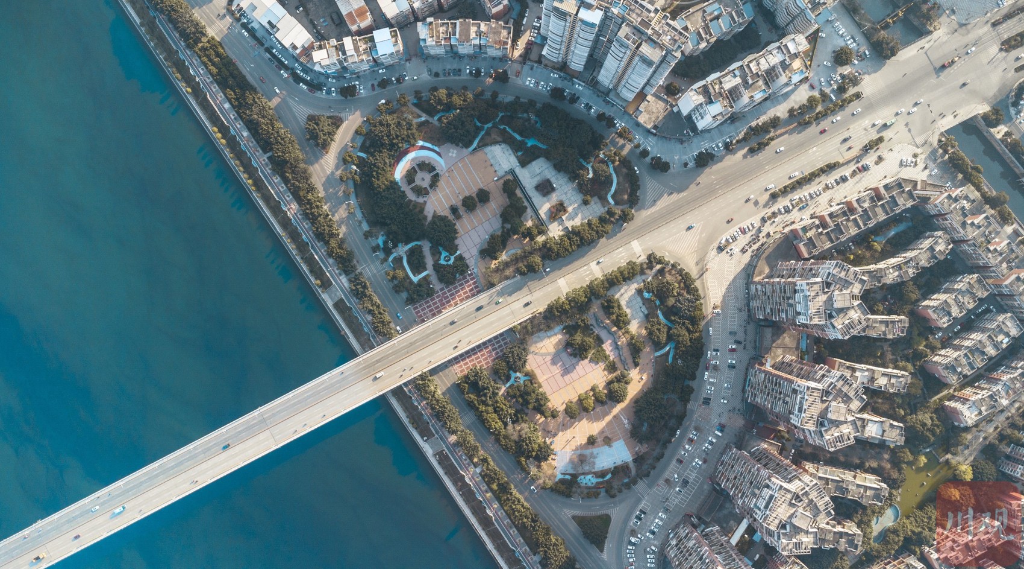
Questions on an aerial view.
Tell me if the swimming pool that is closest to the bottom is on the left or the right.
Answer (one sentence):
The swimming pool that is closest to the bottom sits on the right side.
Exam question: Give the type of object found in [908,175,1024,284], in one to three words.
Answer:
building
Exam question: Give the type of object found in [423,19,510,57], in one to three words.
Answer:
building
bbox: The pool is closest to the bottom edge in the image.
[873,505,900,542]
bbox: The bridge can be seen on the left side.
[0,226,645,569]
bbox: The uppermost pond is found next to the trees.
[899,451,954,517]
